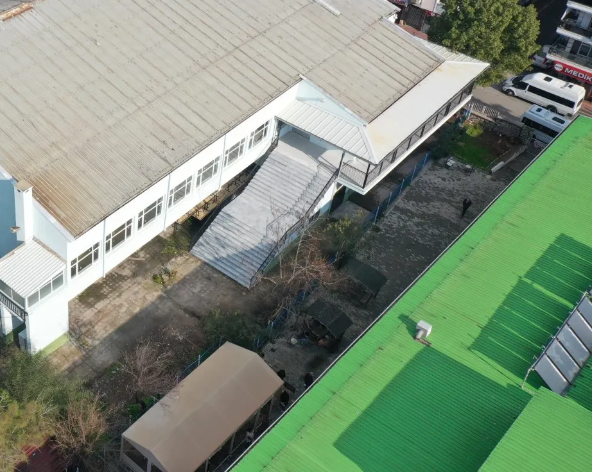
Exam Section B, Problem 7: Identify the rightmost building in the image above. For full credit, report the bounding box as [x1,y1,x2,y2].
[544,0,592,99]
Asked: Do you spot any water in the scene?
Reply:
No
